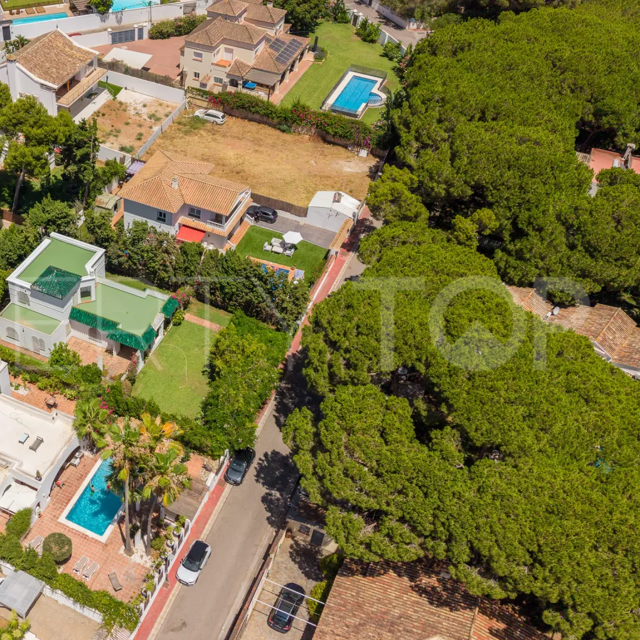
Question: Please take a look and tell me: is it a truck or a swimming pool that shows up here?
swimming pool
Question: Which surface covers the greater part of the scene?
trees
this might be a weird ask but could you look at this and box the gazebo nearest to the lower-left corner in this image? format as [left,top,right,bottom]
[0,571,46,628]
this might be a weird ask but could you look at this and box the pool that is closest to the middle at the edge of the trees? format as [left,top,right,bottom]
[255,260,295,279]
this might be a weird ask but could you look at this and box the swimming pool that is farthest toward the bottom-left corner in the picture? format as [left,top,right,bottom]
[59,460,149,542]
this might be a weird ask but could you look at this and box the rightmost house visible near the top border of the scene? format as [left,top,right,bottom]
[185,0,315,94]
